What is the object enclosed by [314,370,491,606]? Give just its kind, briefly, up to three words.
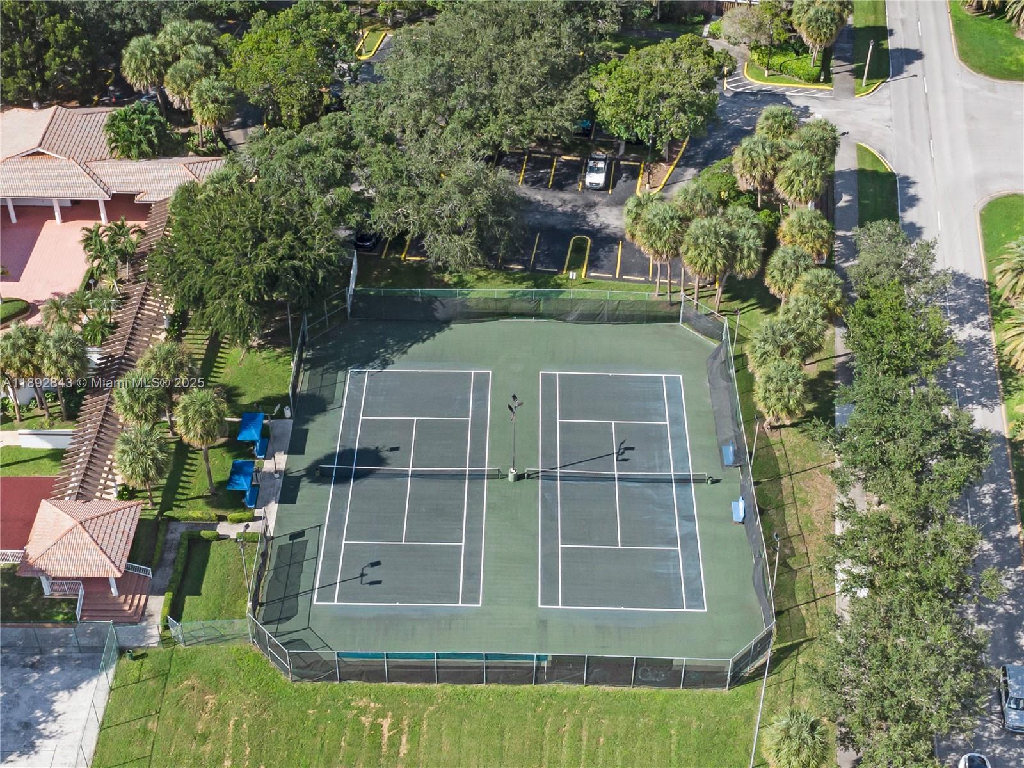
tennis court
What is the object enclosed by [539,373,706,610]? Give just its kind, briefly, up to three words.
tennis court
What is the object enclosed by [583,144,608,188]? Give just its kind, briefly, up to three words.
truck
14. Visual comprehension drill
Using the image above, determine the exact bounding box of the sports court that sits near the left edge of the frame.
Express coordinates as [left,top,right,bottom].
[0,617,120,768]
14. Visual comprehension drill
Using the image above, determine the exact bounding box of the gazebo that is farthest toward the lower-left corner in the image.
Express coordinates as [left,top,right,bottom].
[13,498,150,617]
